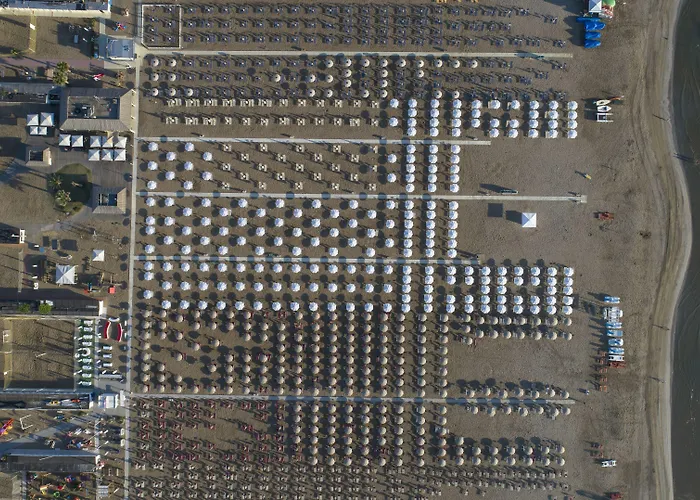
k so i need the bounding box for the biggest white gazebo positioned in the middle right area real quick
[519,212,537,226]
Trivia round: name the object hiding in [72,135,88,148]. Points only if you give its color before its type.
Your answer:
white gazebo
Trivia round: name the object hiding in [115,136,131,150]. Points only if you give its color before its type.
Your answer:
white gazebo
